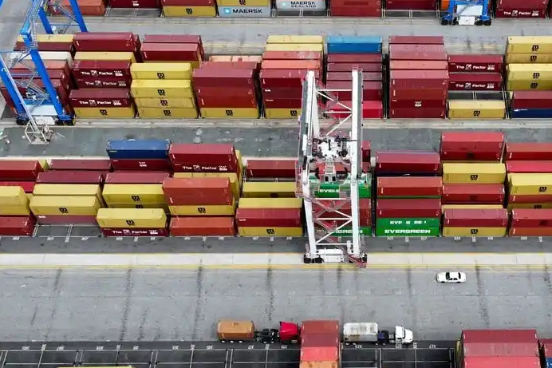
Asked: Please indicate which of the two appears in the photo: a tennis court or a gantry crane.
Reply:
gantry crane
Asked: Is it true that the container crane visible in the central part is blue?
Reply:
No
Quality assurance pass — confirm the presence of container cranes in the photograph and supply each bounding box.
[0,0,84,125]
[443,0,492,24]
[292,66,369,268]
